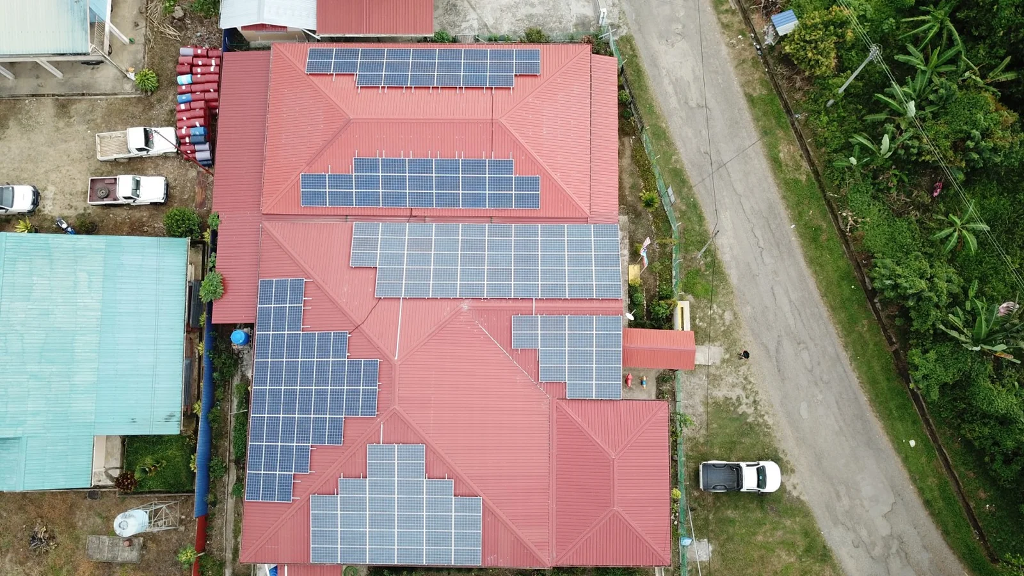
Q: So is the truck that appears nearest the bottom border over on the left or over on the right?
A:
right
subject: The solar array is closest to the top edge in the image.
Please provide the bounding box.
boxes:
[304,45,540,96]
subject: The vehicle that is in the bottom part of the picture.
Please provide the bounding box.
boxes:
[698,460,782,495]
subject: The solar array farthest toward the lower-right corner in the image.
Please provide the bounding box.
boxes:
[512,314,621,400]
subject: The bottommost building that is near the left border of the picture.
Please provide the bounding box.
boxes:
[0,232,201,492]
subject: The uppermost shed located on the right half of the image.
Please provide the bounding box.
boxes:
[767,3,799,40]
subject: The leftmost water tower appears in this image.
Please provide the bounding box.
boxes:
[117,498,181,538]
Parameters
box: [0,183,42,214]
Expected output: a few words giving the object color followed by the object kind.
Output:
white truck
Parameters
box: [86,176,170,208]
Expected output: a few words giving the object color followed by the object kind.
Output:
white truck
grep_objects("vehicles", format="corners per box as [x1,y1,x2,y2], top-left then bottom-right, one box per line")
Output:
[97,127,179,162]
[86,176,170,208]
[0,183,42,214]
[51,214,72,235]
[698,460,782,495]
